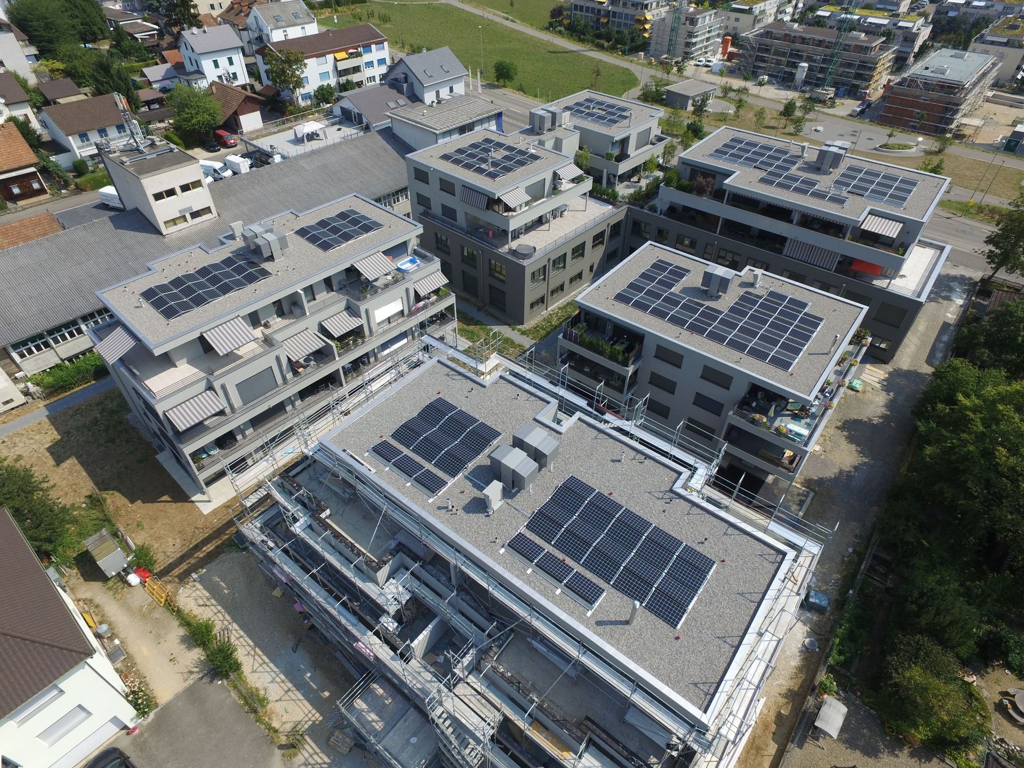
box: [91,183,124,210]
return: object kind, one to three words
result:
vehicle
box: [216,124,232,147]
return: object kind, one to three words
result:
vehicle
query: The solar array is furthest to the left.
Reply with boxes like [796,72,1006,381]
[138,247,283,321]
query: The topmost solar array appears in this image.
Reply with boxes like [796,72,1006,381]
[559,96,636,127]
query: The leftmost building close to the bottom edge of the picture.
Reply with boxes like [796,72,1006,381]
[0,495,138,768]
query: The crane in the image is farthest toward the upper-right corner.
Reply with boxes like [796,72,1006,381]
[813,0,868,102]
